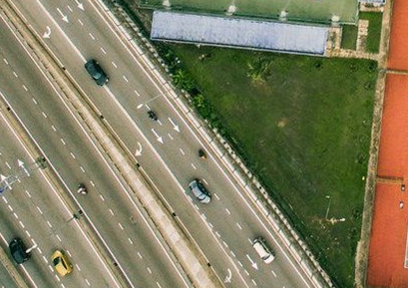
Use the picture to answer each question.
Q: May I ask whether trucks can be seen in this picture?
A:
No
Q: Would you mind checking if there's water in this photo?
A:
No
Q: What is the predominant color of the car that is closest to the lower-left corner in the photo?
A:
black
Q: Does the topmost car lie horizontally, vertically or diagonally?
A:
diagonally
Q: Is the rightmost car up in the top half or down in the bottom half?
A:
bottom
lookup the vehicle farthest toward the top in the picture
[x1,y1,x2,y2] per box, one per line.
[83,59,108,87]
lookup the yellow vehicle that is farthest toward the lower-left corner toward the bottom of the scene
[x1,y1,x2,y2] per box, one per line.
[52,250,71,278]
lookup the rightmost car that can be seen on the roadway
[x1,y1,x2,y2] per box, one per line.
[250,238,274,265]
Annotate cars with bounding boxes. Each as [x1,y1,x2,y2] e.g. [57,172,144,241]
[52,250,71,278]
[7,236,27,267]
[186,177,211,205]
[83,59,108,87]
[250,238,274,265]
